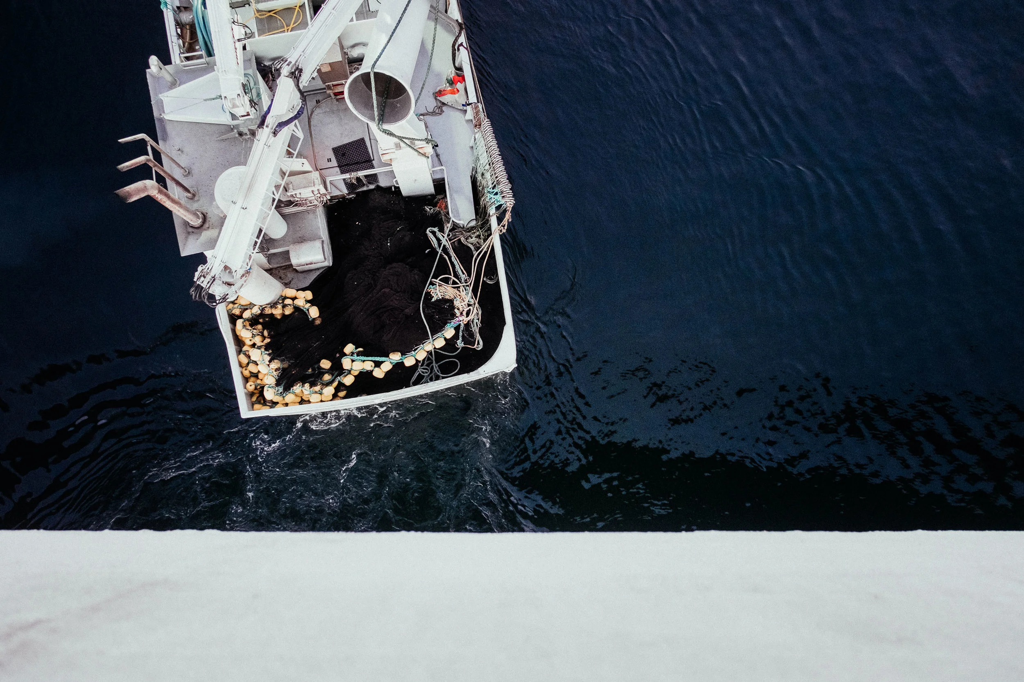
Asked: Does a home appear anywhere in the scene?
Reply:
No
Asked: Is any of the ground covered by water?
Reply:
Yes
